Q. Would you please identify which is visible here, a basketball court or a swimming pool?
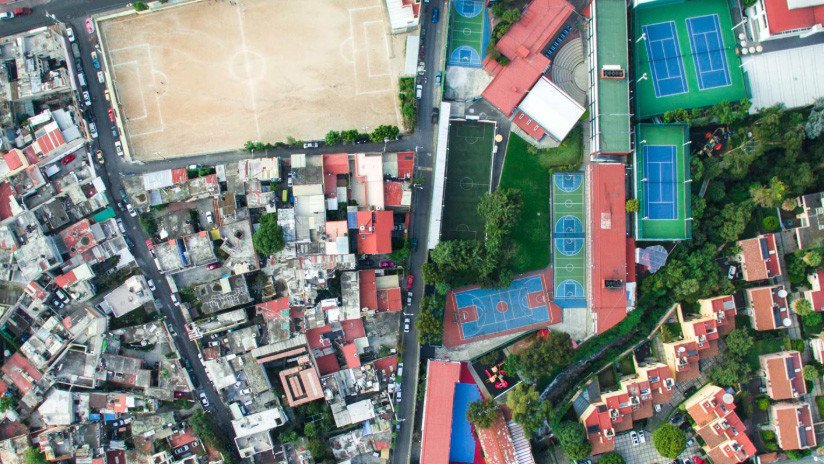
basketball court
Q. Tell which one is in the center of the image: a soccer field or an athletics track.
soccer field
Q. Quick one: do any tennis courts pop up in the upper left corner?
No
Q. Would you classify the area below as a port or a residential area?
residential area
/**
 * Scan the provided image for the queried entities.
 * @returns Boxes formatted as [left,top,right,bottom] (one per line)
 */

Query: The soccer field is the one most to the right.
[441,121,496,245]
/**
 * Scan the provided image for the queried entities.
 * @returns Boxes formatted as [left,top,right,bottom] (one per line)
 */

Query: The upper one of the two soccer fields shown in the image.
[101,0,407,162]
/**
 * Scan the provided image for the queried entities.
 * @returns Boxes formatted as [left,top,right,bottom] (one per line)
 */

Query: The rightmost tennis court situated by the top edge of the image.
[682,0,740,110]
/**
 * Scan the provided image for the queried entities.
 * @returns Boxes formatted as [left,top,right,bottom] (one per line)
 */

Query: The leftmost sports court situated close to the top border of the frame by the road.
[447,0,492,67]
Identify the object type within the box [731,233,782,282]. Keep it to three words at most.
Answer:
house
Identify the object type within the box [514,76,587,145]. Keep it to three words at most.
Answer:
building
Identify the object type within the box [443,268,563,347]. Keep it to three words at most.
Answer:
basketball court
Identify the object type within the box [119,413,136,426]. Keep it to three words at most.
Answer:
vehicle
